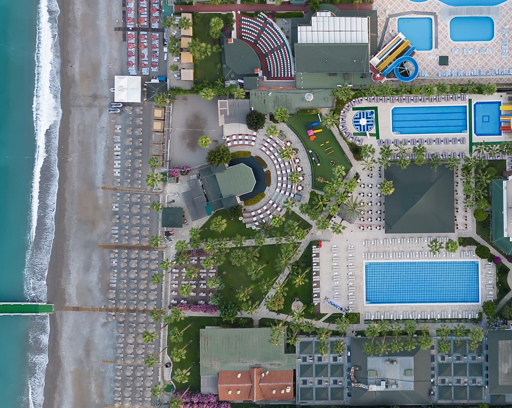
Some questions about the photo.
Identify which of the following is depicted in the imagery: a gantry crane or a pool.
pool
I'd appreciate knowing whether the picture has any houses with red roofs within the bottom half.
Yes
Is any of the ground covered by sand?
Yes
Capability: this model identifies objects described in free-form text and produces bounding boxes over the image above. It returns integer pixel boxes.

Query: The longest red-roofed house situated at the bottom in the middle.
[218,367,295,402]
